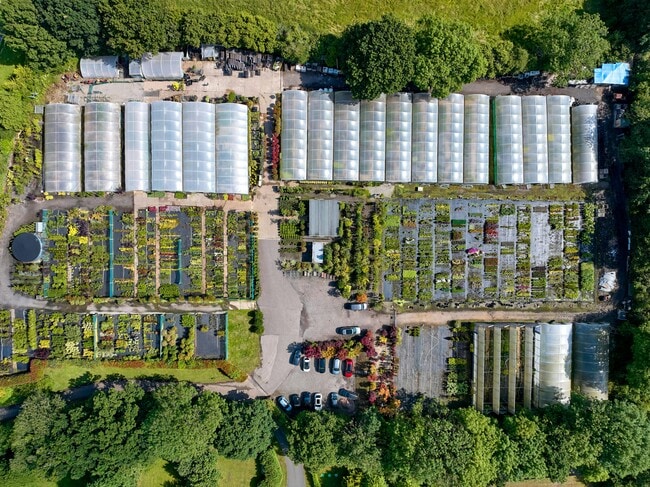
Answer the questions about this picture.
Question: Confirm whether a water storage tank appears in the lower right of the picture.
No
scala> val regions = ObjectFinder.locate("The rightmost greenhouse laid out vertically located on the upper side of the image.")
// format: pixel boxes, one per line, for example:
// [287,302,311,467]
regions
[573,102,601,184]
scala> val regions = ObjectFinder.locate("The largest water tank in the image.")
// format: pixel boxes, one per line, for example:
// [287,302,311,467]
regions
[6,232,45,264]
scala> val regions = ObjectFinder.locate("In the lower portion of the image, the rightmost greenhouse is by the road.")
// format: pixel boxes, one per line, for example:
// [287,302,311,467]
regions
[574,324,611,407]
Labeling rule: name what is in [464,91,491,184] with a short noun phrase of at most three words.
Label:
greenhouse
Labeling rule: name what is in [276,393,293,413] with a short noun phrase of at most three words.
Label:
car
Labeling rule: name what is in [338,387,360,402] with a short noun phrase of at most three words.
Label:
car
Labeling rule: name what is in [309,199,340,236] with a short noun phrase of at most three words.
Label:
shed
